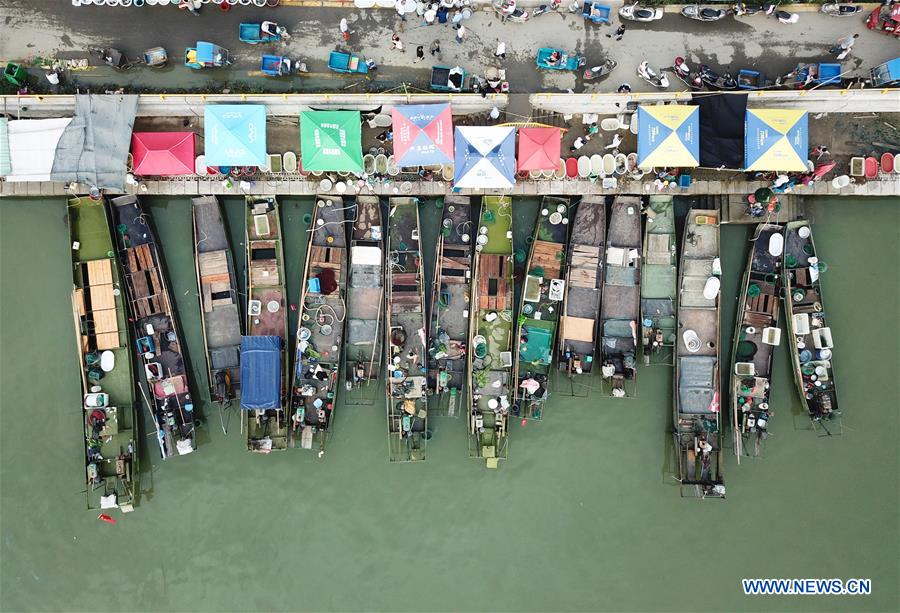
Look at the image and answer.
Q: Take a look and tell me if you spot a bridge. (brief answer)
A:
No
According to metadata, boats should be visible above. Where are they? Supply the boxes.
[386,197,428,462]
[192,196,245,434]
[599,196,642,397]
[559,196,606,397]
[468,197,514,468]
[109,196,200,461]
[509,197,570,420]
[640,196,677,366]
[728,223,785,458]
[240,196,289,450]
[290,196,348,451]
[672,208,726,498]
[345,197,386,405]
[67,197,140,508]
[427,197,471,417]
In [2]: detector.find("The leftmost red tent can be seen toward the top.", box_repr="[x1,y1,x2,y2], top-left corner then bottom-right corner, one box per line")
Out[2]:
[133,133,211,184]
